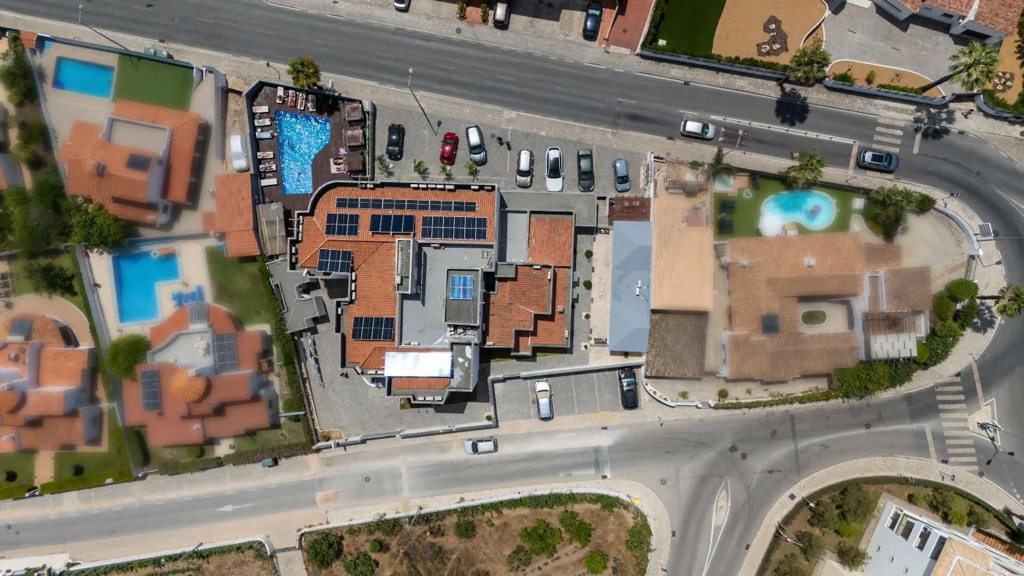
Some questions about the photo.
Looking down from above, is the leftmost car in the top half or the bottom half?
top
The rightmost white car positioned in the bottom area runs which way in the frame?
from top to bottom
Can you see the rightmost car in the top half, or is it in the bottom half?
top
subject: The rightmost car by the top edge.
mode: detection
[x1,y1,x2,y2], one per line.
[582,0,603,43]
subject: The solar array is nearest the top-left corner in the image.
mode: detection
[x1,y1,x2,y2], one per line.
[127,154,152,171]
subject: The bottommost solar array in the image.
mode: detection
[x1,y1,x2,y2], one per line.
[141,370,161,411]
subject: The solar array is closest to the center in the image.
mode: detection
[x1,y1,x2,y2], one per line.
[450,275,474,300]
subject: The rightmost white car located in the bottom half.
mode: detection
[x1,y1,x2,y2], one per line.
[533,379,553,421]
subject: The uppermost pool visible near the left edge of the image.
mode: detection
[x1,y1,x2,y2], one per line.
[49,54,116,99]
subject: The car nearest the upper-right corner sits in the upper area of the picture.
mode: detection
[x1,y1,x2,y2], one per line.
[856,150,899,171]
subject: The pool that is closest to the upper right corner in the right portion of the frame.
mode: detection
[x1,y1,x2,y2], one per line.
[759,187,841,233]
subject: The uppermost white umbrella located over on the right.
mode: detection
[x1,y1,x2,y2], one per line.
[757,212,782,237]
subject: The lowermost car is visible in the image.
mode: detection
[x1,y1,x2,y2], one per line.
[464,436,498,456]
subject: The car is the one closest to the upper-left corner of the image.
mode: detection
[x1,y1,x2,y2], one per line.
[227,132,250,172]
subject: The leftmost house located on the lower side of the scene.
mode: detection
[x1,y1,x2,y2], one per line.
[0,312,117,452]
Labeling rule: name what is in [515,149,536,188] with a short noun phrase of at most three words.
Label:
car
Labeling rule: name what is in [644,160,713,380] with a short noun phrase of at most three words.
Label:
house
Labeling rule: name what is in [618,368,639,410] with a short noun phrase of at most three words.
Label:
car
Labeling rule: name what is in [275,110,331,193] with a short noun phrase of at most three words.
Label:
swimming pool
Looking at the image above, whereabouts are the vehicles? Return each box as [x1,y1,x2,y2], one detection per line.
[492,0,513,33]
[464,436,498,456]
[466,125,487,165]
[515,149,536,188]
[227,132,250,172]
[612,158,633,192]
[618,368,639,410]
[679,120,715,140]
[440,132,459,166]
[856,150,899,171]
[384,123,405,161]
[533,379,553,421]
[544,147,566,191]
[576,149,596,191]
[582,0,603,43]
